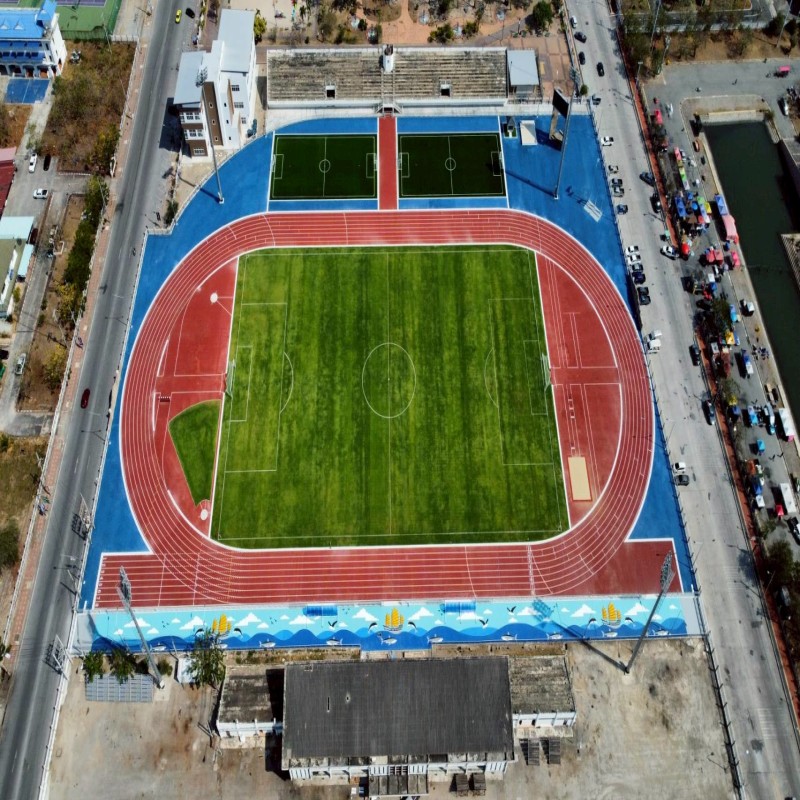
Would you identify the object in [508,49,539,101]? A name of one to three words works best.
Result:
building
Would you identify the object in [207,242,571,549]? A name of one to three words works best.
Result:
sports field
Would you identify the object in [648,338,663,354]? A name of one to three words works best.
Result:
car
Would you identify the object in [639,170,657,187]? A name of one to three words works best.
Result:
car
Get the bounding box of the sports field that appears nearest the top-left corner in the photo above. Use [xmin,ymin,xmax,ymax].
[270,134,378,198]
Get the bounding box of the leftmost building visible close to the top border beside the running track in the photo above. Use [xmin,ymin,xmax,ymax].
[173,7,262,156]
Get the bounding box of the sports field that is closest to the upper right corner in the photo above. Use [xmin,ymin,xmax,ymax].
[398,133,506,198]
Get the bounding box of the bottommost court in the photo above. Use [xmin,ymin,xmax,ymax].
[5,78,51,103]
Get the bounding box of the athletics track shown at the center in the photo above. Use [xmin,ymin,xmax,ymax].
[92,118,684,607]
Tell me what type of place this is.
sports ground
